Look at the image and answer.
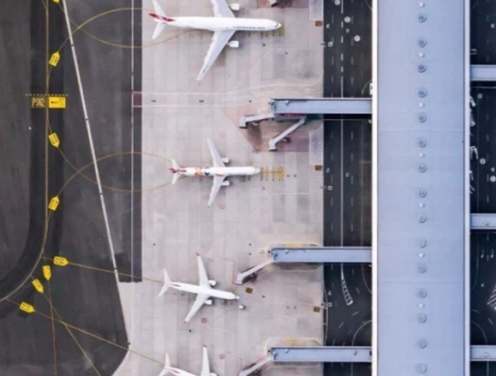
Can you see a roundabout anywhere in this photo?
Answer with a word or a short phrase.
No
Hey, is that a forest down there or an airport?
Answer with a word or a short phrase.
airport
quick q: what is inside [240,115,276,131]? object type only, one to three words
jet bridge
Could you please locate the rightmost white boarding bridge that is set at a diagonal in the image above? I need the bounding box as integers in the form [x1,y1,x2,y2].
[269,119,309,152]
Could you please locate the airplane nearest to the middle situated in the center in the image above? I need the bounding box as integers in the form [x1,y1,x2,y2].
[170,135,260,207]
